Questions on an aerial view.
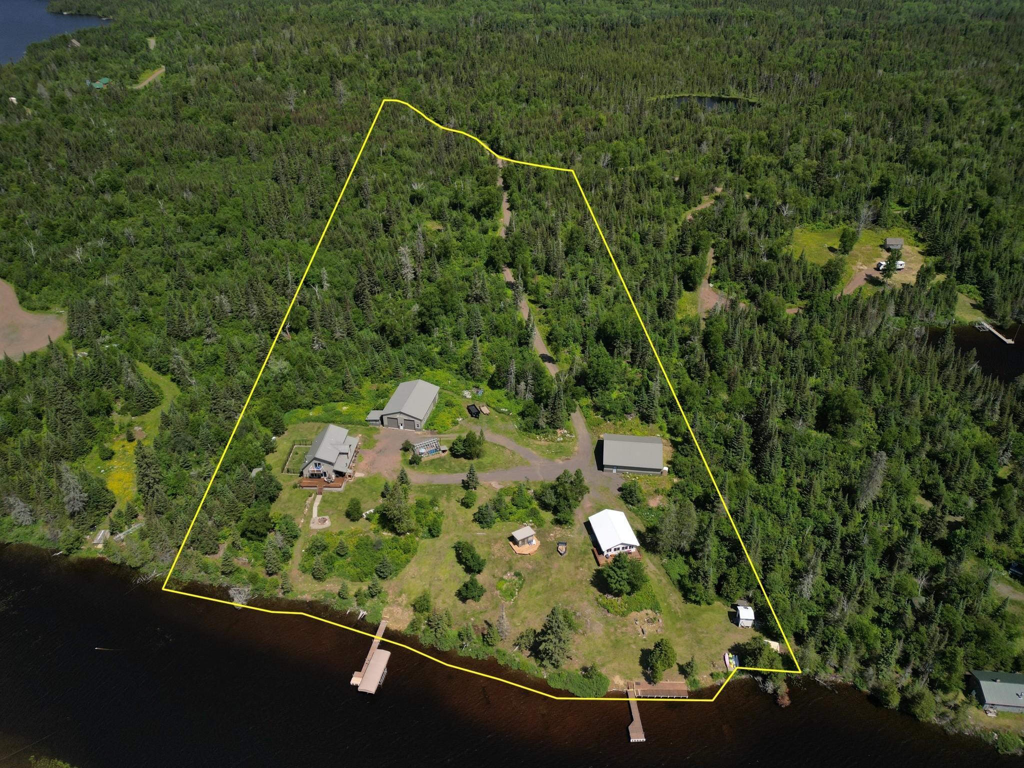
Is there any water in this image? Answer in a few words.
Yes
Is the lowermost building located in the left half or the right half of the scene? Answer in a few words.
right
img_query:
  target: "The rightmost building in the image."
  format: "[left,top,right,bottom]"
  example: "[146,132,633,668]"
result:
[973,662,1024,716]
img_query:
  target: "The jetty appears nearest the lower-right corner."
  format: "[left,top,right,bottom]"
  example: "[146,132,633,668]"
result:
[624,682,646,742]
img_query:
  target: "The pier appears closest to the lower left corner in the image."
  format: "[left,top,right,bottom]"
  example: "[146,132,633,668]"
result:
[350,615,389,688]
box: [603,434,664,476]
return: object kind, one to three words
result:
barn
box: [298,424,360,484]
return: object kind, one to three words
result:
house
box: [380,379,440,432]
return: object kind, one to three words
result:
building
